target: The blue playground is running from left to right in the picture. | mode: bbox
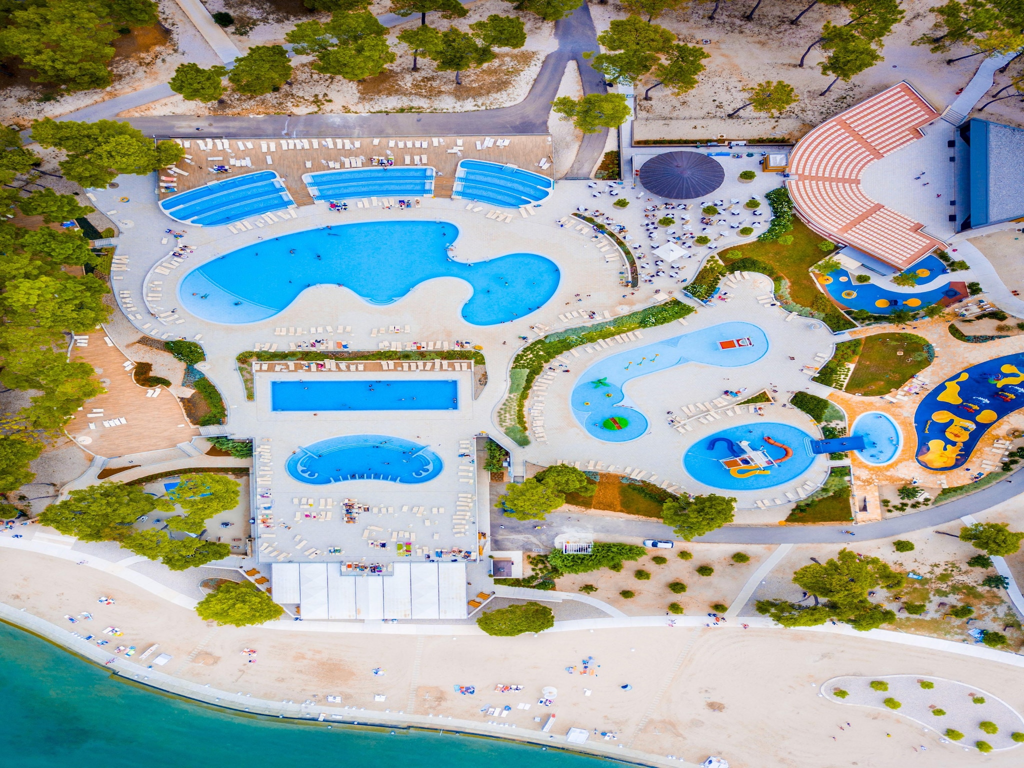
[810,255,969,316]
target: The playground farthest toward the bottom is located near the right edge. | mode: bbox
[914,352,1024,471]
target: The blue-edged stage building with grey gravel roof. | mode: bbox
[953,106,1024,235]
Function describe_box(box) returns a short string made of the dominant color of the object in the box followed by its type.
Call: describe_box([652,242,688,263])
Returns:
white umbrella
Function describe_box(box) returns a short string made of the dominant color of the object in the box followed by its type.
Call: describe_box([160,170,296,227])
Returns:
blue swimming pool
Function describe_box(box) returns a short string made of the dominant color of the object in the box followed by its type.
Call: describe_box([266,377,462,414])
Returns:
blue swimming pool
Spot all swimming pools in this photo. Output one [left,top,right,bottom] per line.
[303,167,435,203]
[283,431,447,487]
[680,418,823,494]
[568,318,772,445]
[851,409,905,469]
[176,216,565,330]
[451,160,553,209]
[160,170,296,227]
[266,377,462,414]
